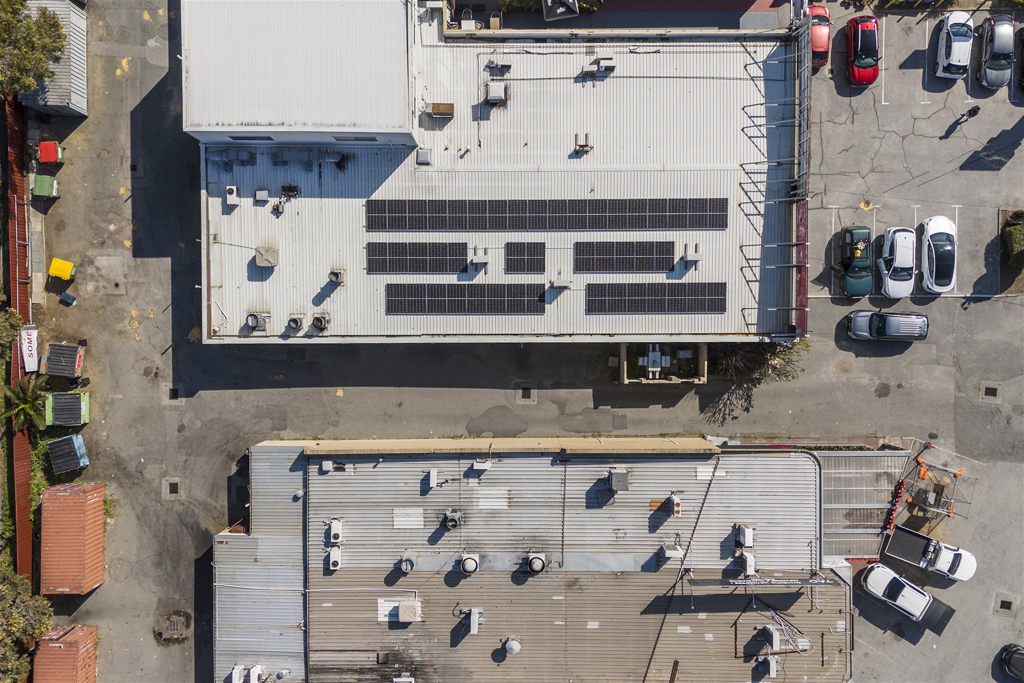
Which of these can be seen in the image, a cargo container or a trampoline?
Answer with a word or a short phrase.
cargo container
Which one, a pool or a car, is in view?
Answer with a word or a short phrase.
car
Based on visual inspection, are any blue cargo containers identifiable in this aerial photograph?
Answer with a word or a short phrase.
No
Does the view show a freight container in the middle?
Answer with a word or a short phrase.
No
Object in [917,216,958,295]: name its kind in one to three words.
car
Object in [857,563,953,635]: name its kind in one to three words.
truck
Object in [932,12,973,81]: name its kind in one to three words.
car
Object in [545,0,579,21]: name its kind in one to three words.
umbrella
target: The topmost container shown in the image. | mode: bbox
[41,482,103,594]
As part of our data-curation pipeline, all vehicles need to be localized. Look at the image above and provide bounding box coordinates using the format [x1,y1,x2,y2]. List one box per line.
[826,225,876,297]
[917,216,958,295]
[882,523,971,581]
[841,15,881,89]
[857,563,953,635]
[798,7,834,69]
[972,15,1013,90]
[1016,25,1024,97]
[874,226,918,299]
[844,309,931,343]
[932,12,973,81]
